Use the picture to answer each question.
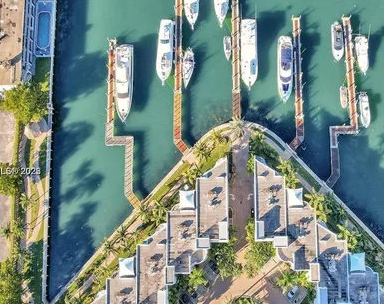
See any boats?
Yes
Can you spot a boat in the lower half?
No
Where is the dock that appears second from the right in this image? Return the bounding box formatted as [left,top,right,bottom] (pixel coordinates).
[285,12,307,153]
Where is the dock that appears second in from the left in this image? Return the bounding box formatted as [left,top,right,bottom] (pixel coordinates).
[170,0,191,158]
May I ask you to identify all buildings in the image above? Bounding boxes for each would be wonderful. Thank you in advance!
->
[89,158,229,304]
[0,0,38,93]
[254,157,384,304]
